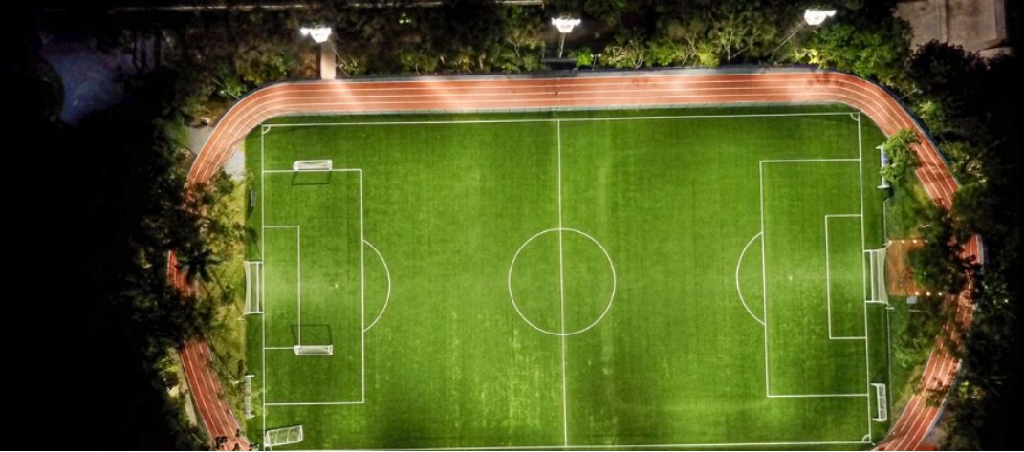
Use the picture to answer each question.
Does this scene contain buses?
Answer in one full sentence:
No, there isn't any bus down there.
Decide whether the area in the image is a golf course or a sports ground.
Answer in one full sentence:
What you see here is a sports ground.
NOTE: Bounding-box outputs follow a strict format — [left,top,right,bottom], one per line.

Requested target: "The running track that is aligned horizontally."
[169,72,978,452]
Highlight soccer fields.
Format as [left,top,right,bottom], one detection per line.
[242,102,892,452]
